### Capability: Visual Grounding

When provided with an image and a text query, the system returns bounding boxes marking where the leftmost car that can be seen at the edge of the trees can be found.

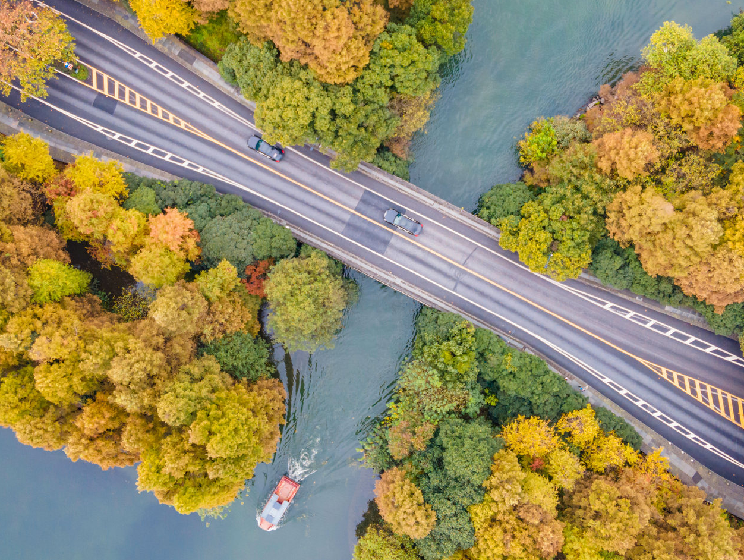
[246,134,286,163]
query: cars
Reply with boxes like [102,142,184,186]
[246,134,286,163]
[383,207,424,237]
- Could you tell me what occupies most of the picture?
trees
